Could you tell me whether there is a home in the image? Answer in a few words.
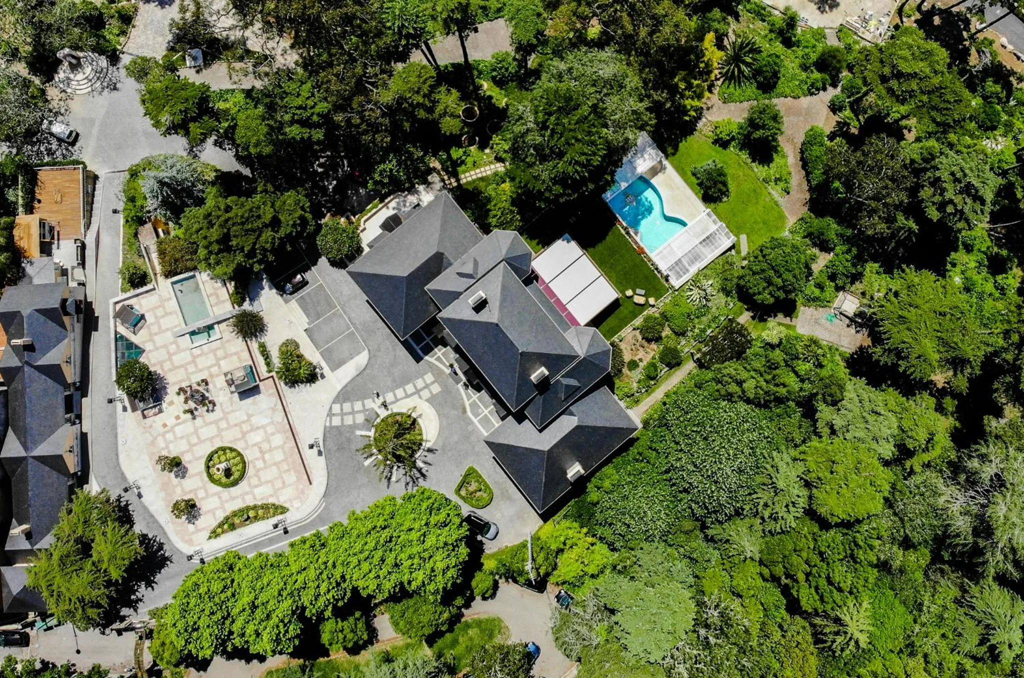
Yes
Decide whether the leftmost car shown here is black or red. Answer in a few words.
black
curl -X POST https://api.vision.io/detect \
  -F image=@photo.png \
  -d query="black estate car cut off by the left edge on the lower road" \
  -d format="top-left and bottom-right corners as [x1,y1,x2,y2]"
[0,630,28,651]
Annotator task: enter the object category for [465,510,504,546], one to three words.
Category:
car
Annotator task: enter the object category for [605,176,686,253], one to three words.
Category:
swimming pool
